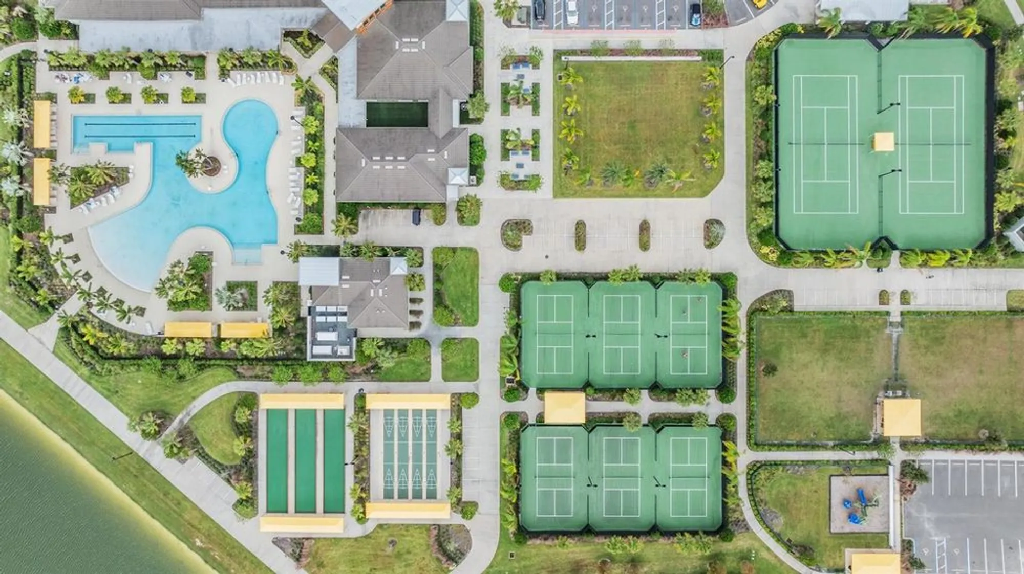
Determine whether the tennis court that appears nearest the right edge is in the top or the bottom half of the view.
top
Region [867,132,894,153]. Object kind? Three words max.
building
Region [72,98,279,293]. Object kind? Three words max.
swimming pool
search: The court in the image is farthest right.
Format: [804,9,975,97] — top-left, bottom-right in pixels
[880,39,987,249]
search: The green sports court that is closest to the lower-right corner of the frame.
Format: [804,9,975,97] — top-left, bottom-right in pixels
[656,428,722,531]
